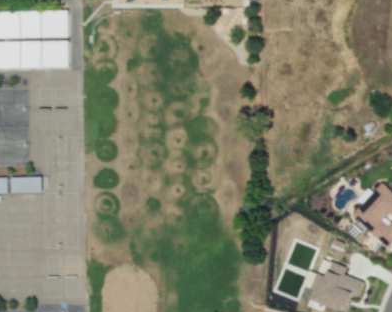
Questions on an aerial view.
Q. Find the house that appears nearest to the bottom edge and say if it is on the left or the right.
right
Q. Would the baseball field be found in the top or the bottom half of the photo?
bottom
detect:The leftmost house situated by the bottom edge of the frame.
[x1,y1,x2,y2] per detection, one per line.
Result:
[307,261,367,312]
